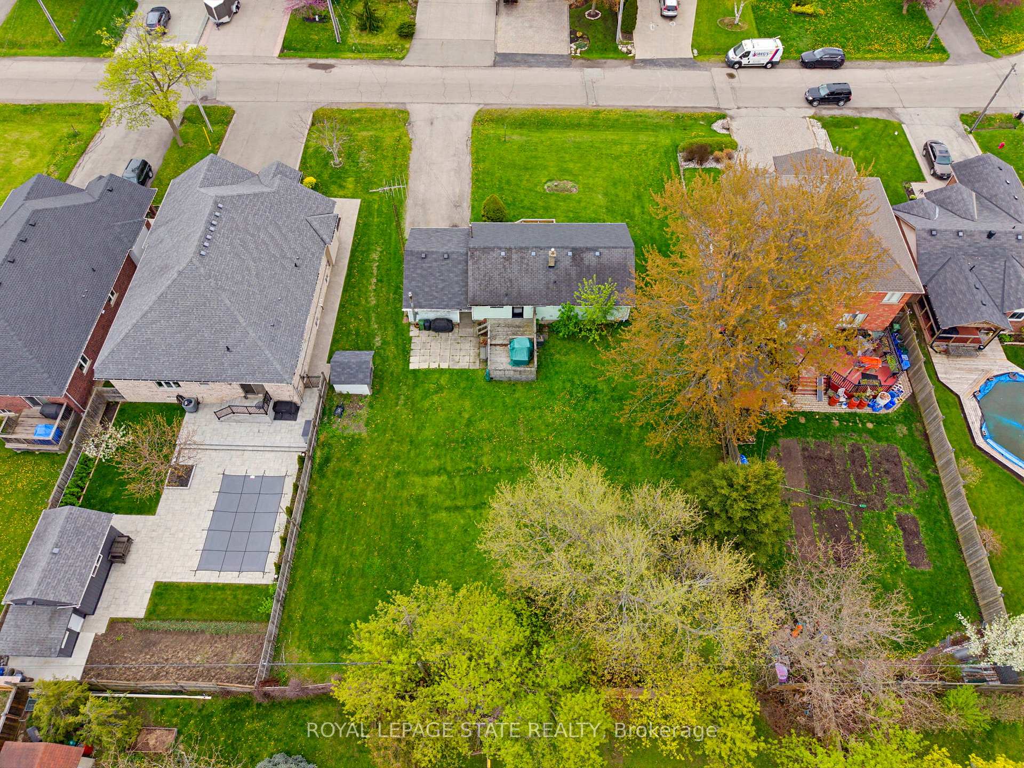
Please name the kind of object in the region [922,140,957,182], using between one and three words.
car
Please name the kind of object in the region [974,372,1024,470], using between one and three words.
swimming pool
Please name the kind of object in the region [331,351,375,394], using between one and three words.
shed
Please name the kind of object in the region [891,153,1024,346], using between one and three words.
house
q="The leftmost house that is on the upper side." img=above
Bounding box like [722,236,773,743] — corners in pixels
[0,173,160,411]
